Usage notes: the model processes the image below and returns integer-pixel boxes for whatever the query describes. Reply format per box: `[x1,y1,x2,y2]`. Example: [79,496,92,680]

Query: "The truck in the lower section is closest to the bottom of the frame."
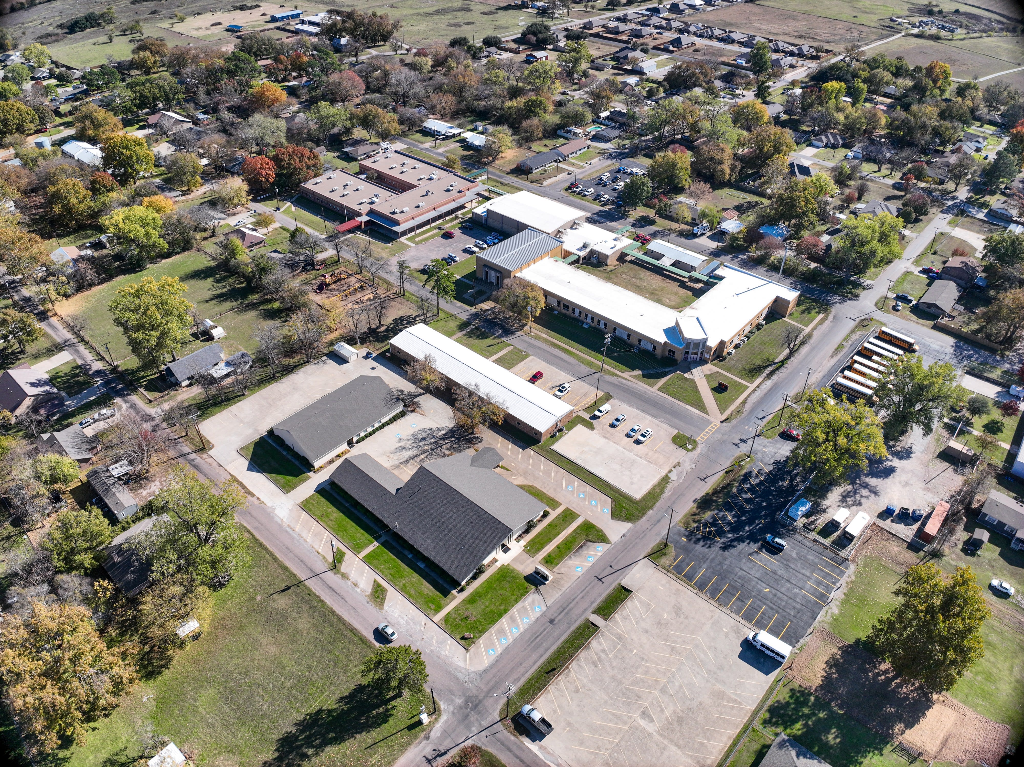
[521,703,555,735]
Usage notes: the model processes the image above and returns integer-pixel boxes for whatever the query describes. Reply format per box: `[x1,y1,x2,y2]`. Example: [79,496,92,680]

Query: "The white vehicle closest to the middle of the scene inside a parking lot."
[554,382,571,397]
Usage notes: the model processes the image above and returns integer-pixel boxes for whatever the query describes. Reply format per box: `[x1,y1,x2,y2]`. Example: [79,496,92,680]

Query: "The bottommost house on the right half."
[735,716,842,767]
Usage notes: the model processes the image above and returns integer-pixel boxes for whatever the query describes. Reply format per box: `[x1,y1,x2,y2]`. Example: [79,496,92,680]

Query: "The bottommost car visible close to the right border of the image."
[988,579,1017,597]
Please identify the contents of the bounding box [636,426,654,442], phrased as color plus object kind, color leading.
white car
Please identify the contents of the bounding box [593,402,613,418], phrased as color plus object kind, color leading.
white vehicle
